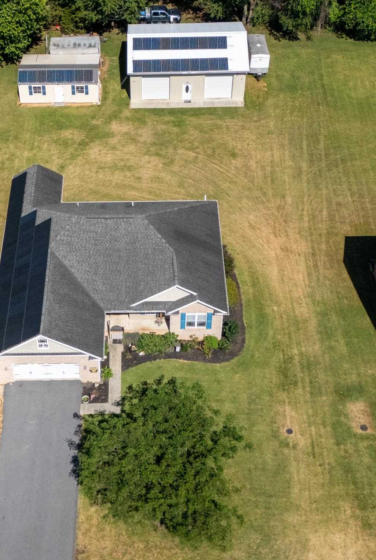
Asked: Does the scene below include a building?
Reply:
Yes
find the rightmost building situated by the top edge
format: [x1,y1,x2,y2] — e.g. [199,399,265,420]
[128,22,250,101]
